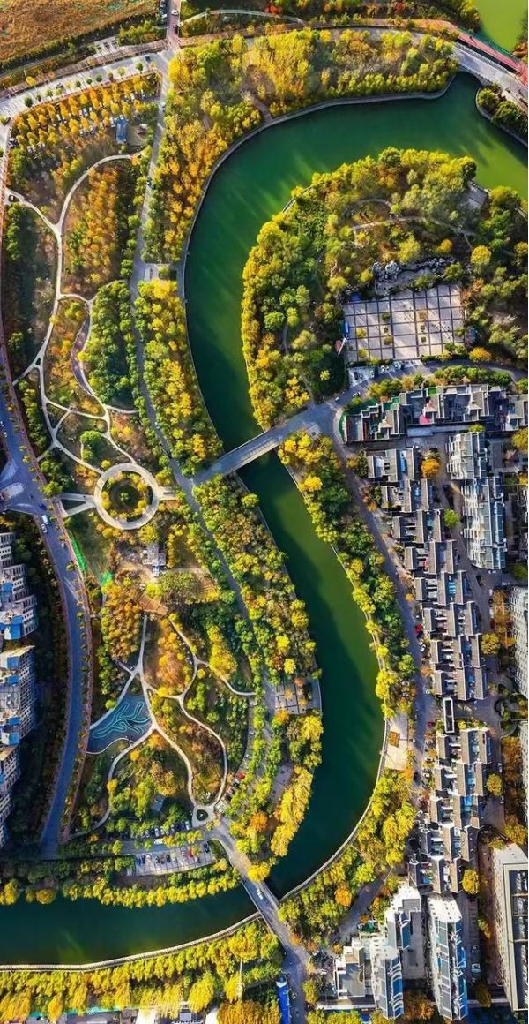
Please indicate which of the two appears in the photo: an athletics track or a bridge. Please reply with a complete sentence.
I can see a bridge in this picture.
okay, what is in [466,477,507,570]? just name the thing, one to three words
building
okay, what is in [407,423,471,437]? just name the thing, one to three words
shed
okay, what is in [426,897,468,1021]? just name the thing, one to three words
building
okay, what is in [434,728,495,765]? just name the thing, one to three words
house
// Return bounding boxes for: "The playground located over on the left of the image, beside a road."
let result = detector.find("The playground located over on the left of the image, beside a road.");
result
[86,694,153,752]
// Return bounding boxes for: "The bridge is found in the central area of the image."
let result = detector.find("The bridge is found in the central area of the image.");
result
[188,416,311,491]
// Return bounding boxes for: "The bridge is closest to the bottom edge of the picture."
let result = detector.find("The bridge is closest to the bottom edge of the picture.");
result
[232,858,287,938]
